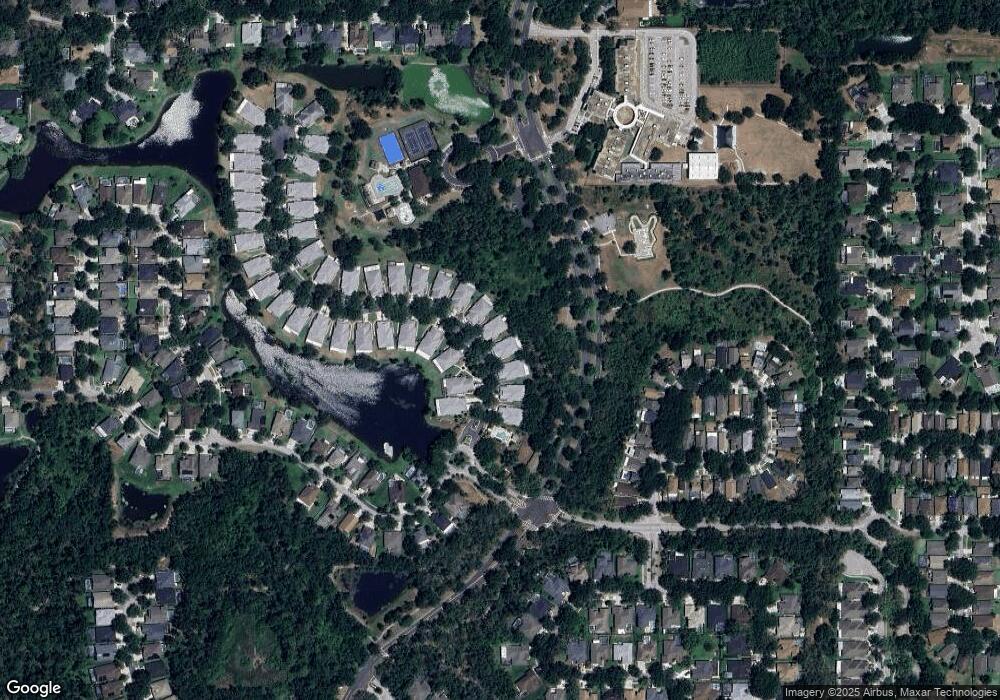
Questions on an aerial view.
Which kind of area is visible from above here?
residential area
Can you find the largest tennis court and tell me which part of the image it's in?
top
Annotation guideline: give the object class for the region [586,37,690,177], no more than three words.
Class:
building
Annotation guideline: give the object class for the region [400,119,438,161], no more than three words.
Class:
tennis court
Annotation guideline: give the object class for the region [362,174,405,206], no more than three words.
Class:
swimming pool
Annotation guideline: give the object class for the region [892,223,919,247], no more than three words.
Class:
house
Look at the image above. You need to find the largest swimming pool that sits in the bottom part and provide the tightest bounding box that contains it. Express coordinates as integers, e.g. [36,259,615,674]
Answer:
[490,426,512,443]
